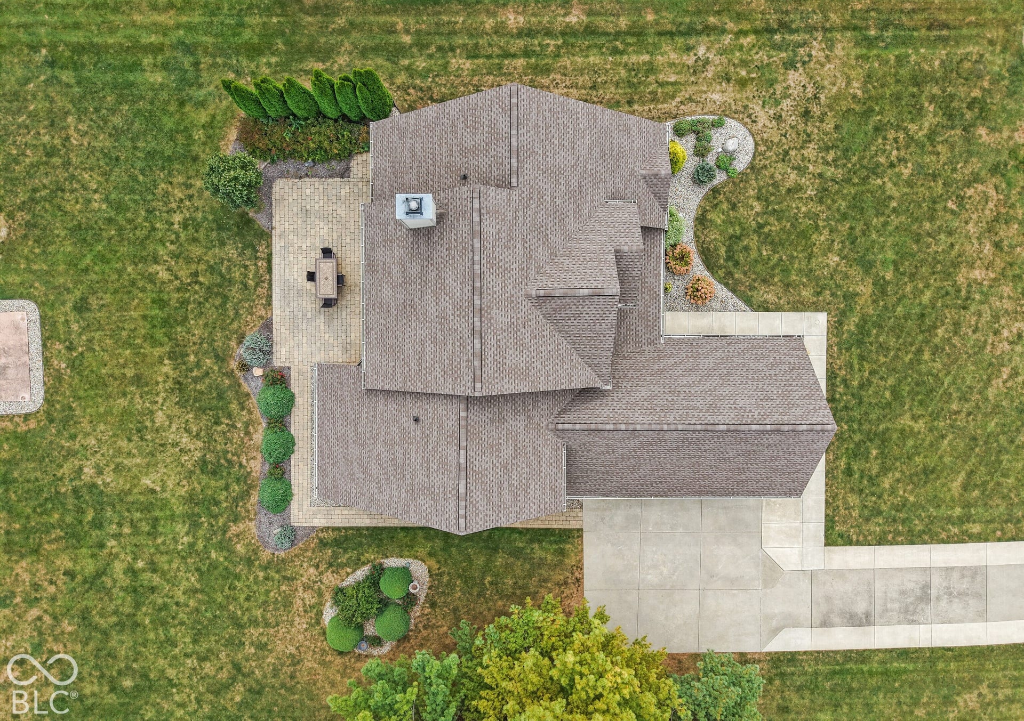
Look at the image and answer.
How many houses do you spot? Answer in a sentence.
Altogether the scene contains 1 house.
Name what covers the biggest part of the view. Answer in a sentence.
The bulk of the photo consists of grass.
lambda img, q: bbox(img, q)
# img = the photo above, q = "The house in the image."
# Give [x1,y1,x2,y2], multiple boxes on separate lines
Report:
[313,81,836,535]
